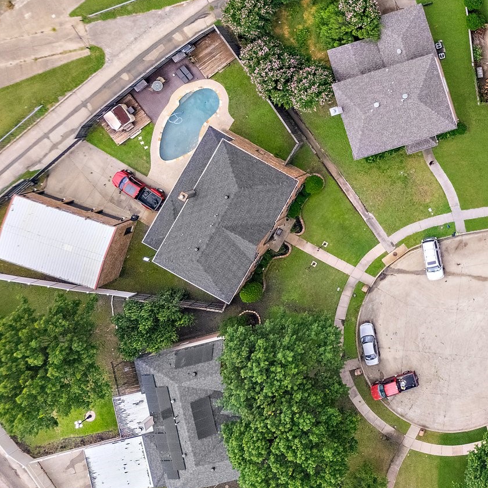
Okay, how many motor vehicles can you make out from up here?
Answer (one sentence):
My tally gives 4 motor vehicles in this view.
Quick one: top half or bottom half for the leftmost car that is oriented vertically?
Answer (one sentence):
The leftmost car that is oriented vertically is in the bottom half of the image.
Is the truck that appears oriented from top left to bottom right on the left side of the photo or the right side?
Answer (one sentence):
The truck that appears oriented from top left to bottom right appears in the left half of the scene.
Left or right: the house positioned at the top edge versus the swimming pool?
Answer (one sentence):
The house positioned at the top edge appears to the right of the swimming pool in this view.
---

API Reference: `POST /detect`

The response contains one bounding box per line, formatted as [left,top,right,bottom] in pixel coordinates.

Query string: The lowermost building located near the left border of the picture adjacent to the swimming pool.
[0,192,131,290]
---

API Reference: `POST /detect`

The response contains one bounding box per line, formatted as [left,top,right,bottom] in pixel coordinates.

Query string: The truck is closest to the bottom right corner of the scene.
[369,371,421,401]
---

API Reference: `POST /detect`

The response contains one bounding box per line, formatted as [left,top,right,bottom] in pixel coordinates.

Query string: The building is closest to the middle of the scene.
[142,125,307,304]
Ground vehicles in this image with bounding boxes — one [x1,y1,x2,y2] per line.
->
[360,322,382,366]
[110,168,166,215]
[369,371,421,401]
[422,237,445,280]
